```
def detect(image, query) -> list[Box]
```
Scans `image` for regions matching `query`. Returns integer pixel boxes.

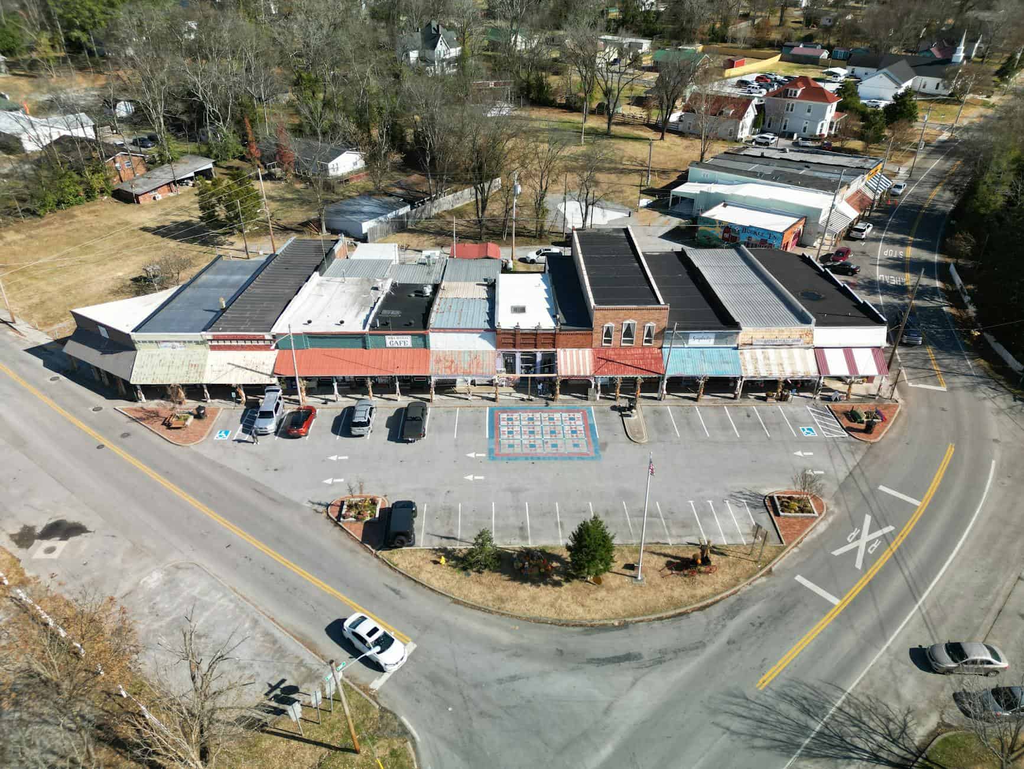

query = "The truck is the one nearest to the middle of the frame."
[402,396,428,436]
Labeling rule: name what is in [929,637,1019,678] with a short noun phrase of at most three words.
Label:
car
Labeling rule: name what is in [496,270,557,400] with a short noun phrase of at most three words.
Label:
building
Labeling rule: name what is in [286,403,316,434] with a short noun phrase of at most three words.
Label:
car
